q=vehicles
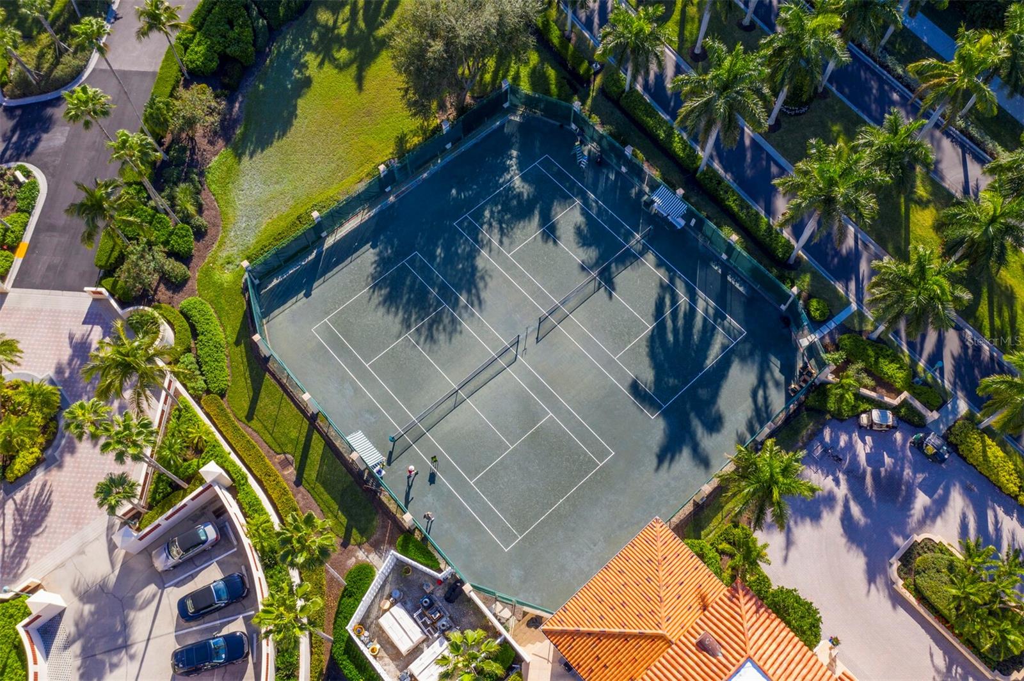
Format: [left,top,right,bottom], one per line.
[155,522,224,574]
[858,410,900,434]
[908,433,952,464]
[174,633,252,676]
[178,575,251,620]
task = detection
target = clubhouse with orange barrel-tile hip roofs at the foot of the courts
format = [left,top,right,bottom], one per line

[540,518,852,681]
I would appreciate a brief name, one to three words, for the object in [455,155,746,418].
tennis court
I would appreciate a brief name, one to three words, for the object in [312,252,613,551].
tennis court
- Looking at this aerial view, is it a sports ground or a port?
sports ground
